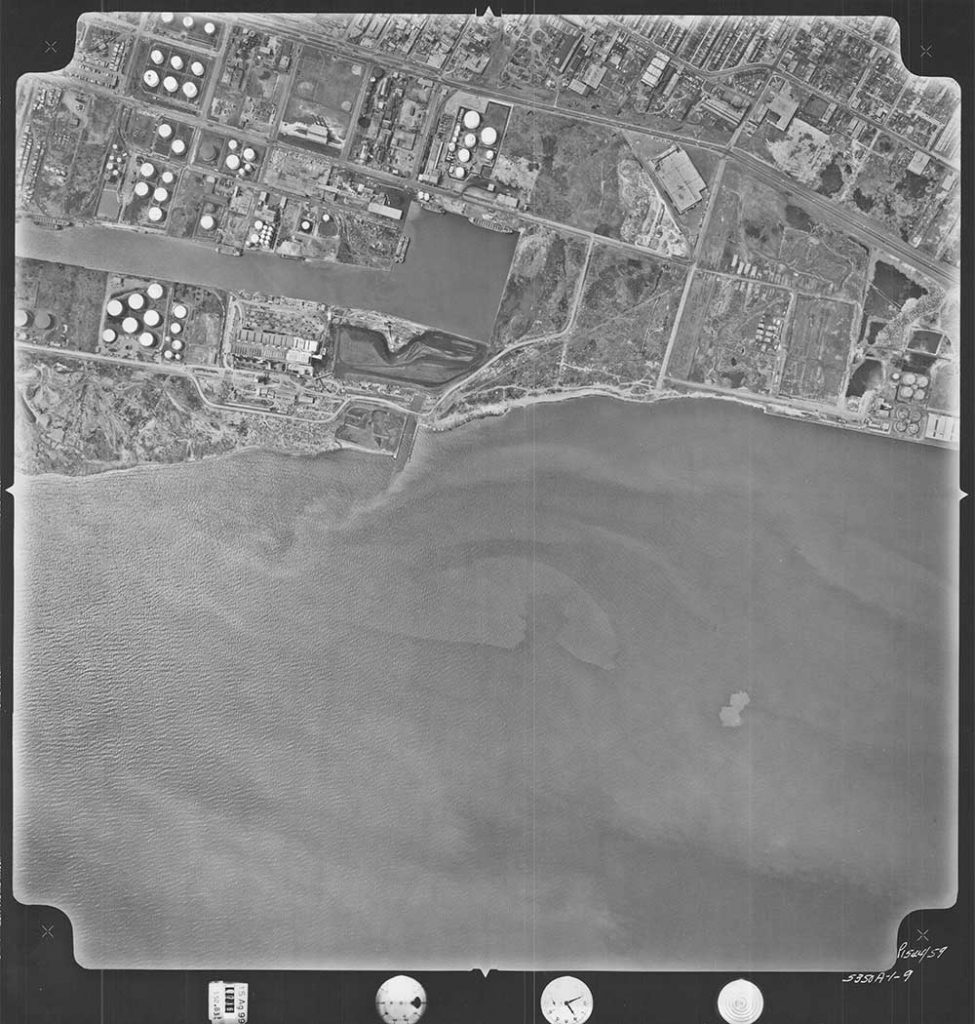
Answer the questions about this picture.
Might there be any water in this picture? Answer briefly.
Yes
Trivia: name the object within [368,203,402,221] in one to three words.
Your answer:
building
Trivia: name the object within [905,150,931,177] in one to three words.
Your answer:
building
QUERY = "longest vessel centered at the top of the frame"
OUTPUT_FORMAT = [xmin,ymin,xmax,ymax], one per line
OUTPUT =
[469,219,511,233]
